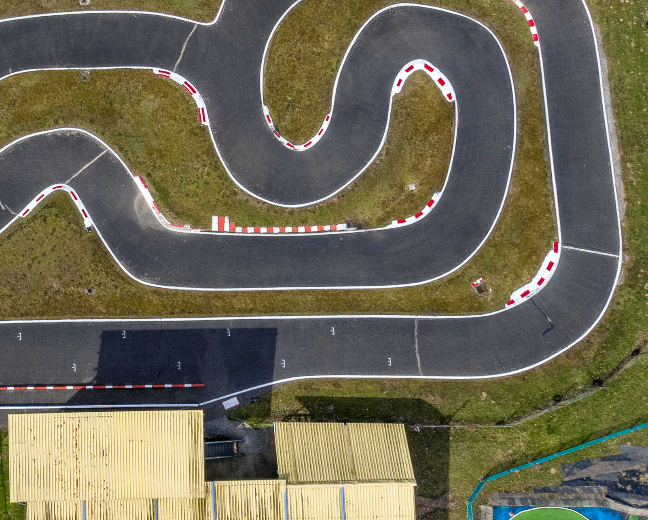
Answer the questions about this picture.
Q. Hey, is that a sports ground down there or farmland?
sports ground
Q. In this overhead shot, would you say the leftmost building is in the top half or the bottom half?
bottom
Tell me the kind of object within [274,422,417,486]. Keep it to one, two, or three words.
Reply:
shed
